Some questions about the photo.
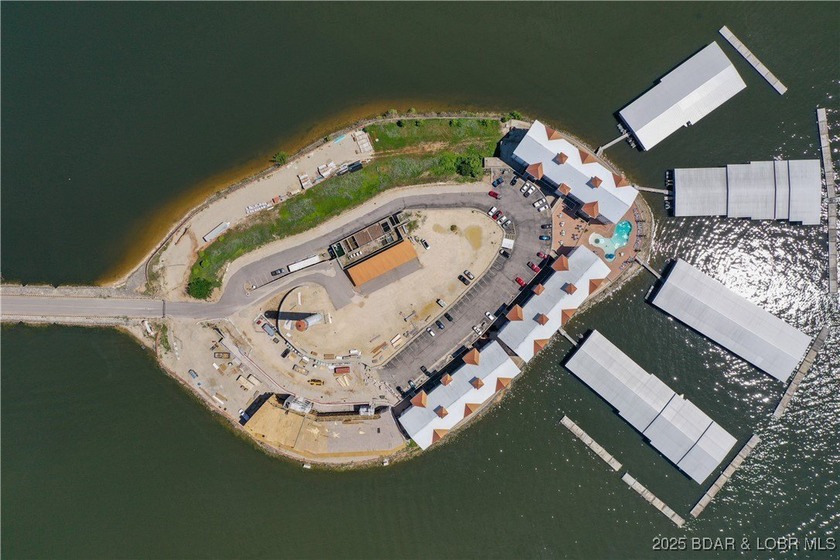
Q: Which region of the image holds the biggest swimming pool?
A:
right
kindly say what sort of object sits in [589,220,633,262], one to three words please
swimming pool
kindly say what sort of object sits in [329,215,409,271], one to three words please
building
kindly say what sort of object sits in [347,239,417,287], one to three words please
shed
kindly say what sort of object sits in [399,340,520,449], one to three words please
building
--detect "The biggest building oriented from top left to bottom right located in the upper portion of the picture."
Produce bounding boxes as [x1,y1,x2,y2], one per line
[513,121,638,224]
